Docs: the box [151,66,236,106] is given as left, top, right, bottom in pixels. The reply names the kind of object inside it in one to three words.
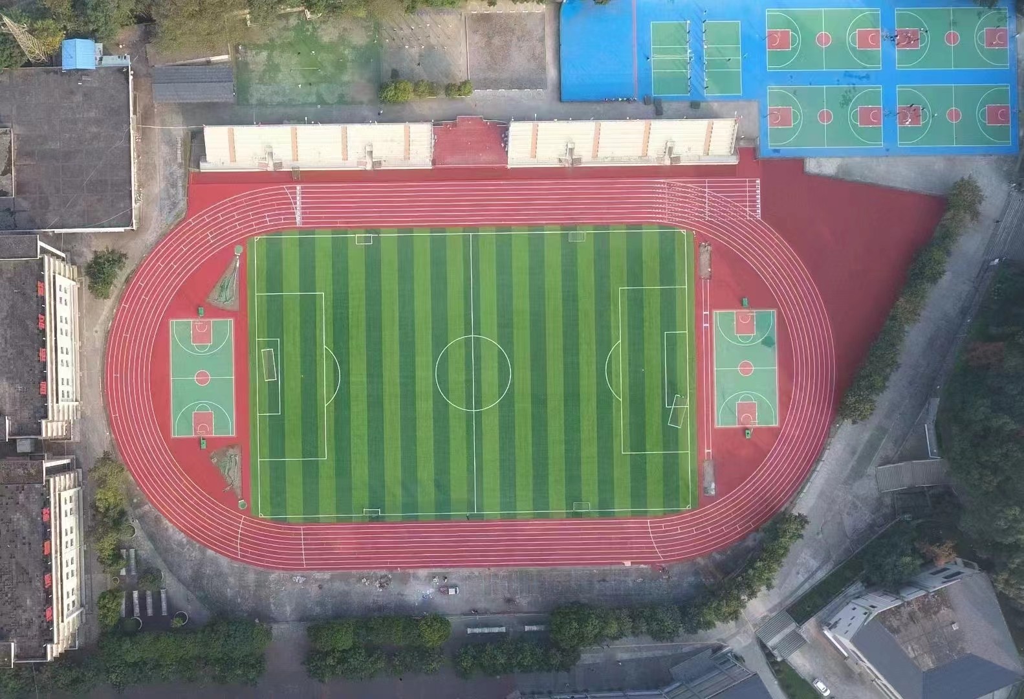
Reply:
shed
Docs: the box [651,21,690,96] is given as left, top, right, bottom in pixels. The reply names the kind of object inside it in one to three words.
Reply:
sports court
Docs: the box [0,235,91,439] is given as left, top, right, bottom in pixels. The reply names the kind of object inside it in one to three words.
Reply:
building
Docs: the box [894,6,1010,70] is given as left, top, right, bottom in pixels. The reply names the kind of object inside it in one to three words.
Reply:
basketball court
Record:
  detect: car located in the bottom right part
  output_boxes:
[812,676,830,694]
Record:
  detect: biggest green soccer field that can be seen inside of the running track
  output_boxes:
[248,225,698,521]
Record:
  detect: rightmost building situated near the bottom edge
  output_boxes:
[823,564,1024,699]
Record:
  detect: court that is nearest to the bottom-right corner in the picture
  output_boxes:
[712,309,779,428]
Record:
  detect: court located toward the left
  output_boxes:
[169,318,236,437]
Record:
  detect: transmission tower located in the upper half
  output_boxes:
[0,22,51,66]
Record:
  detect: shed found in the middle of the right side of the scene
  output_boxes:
[923,397,940,423]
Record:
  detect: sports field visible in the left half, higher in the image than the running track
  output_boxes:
[237,13,382,105]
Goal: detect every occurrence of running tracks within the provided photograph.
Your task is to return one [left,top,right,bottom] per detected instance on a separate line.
[105,146,951,569]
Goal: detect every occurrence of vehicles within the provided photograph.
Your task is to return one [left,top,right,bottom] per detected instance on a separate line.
[440,586,459,595]
[812,676,830,694]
